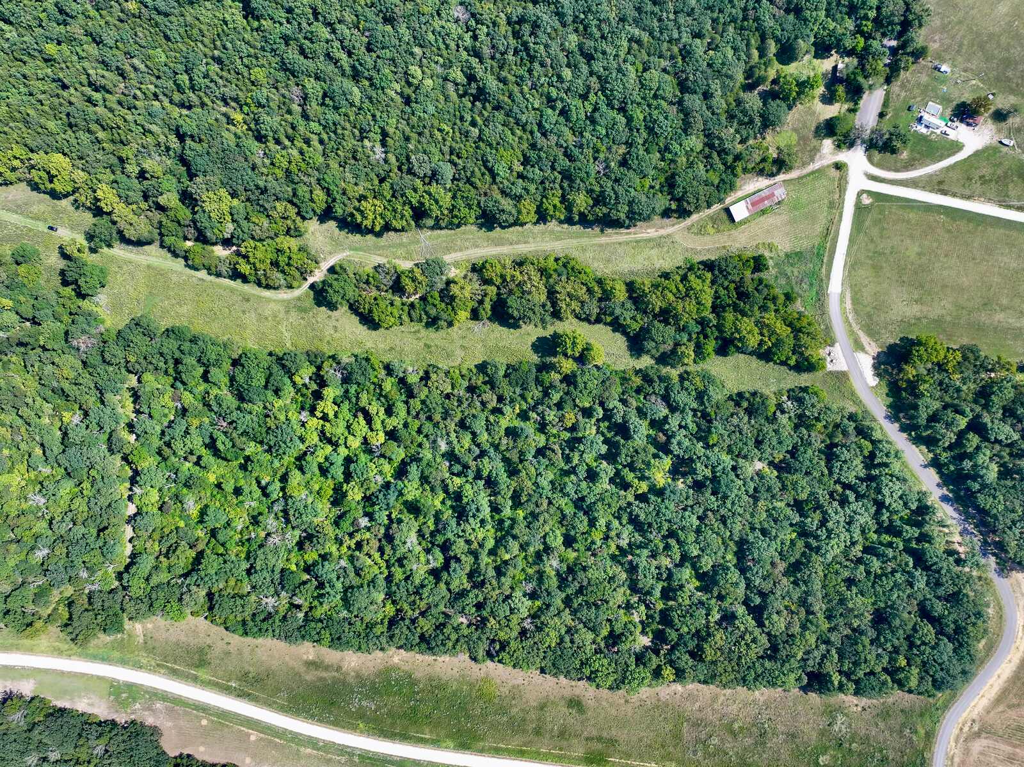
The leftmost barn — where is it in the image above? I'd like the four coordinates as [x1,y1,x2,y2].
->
[728,183,786,223]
